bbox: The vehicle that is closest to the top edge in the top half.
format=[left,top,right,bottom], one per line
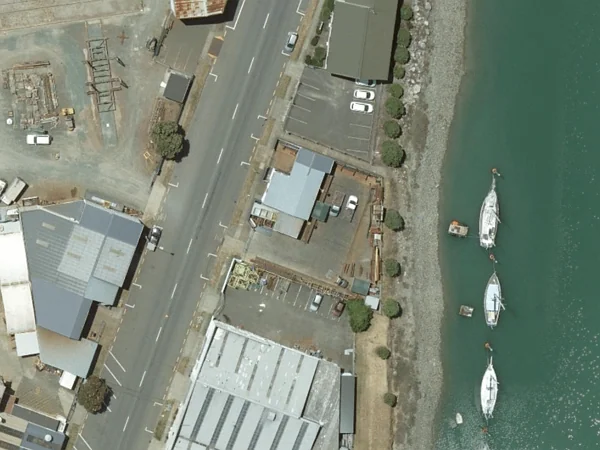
[283,33,297,54]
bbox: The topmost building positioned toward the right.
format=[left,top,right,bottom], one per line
[330,0,398,80]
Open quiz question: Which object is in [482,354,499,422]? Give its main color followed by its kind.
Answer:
white boat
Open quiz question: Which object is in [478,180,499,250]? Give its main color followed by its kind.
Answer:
white boat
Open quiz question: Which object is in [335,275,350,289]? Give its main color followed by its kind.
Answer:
gray vehicle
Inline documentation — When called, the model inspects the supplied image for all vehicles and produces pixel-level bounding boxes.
[145,224,162,251]
[0,174,30,206]
[283,33,297,54]
[356,79,376,88]
[26,134,51,145]
[343,193,359,220]
[350,102,373,112]
[331,298,346,320]
[335,275,350,289]
[329,187,349,214]
[309,291,324,314]
[353,90,374,100]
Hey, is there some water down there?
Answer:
Yes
